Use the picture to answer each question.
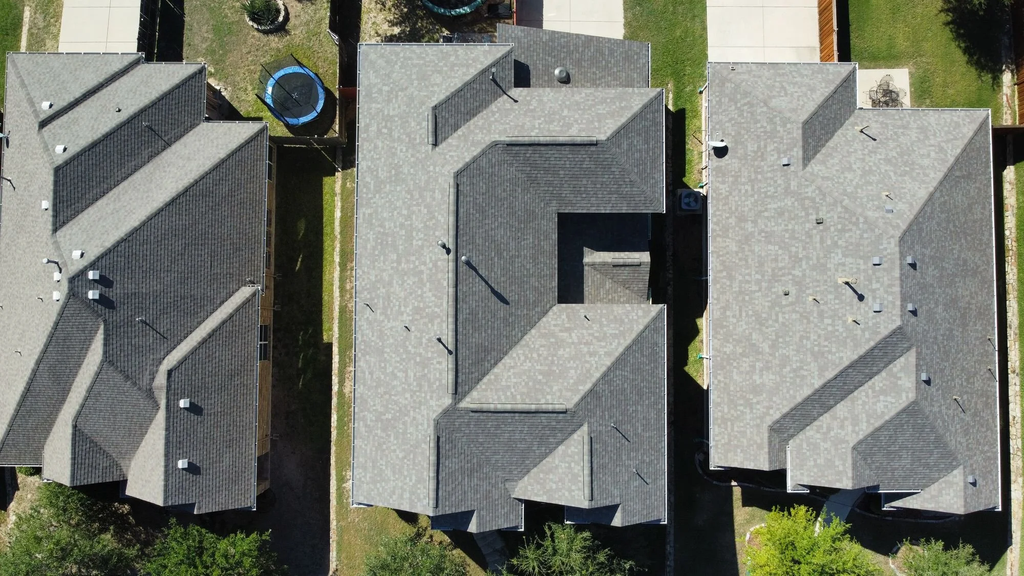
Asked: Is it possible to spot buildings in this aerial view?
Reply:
Yes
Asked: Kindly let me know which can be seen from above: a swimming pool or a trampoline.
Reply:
trampoline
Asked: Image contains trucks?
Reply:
No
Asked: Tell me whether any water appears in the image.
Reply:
No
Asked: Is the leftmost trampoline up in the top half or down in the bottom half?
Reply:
top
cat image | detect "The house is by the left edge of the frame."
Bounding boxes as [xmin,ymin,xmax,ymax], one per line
[0,51,287,514]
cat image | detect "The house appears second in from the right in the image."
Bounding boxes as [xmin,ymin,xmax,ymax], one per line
[351,22,667,533]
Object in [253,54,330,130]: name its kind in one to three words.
trampoline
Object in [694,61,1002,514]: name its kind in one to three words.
house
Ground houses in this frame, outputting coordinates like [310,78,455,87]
[694,61,1002,514]
[0,51,287,514]
[351,22,667,533]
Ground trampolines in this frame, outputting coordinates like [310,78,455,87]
[253,54,330,130]
[426,0,483,21]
